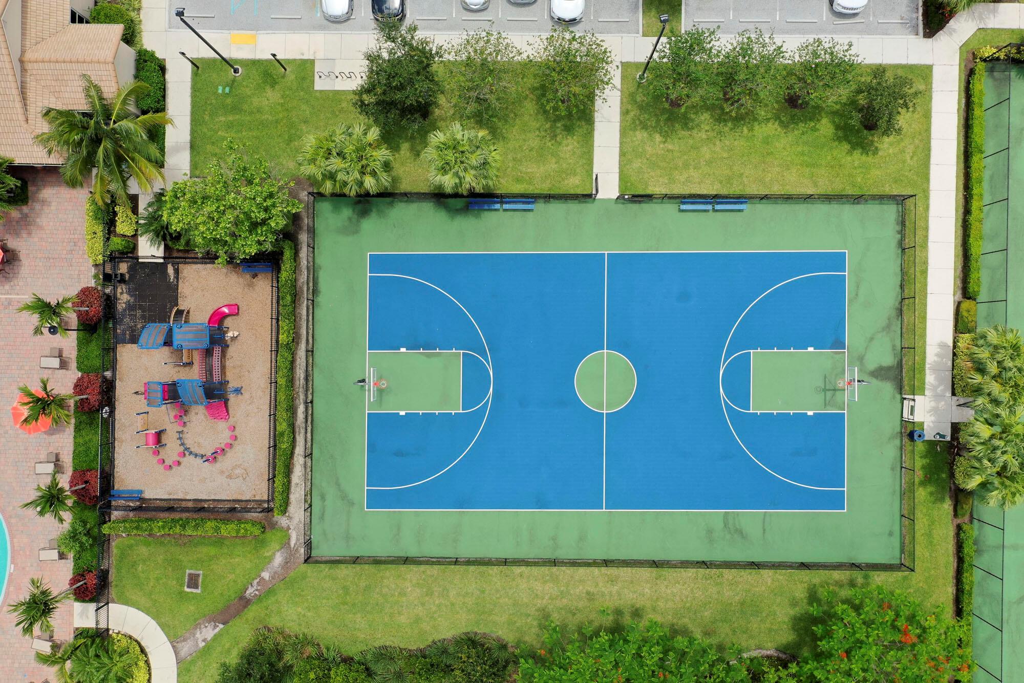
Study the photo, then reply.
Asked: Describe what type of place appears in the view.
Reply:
sports ground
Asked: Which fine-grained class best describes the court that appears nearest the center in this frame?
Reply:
basketball court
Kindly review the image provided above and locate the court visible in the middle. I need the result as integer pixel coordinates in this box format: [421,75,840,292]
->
[310,198,903,564]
